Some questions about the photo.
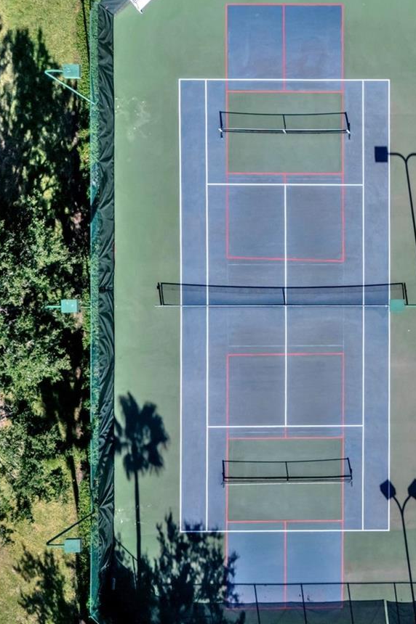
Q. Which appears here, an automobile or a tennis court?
tennis court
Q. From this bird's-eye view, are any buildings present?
No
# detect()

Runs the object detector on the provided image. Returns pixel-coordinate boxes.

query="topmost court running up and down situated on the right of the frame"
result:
[226,3,343,262]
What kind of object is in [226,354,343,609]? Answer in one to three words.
sports court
